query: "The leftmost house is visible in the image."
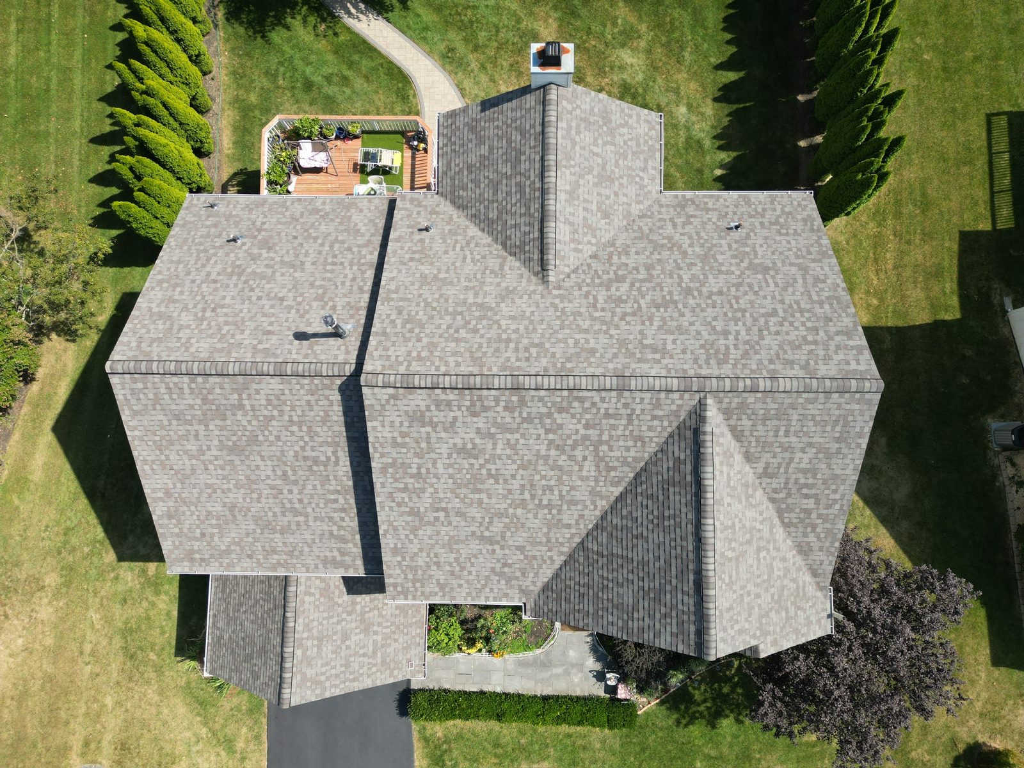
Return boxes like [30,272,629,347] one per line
[104,38,885,708]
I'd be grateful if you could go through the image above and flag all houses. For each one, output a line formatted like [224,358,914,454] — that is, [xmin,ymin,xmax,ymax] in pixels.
[104,38,885,708]
[1003,297,1024,387]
